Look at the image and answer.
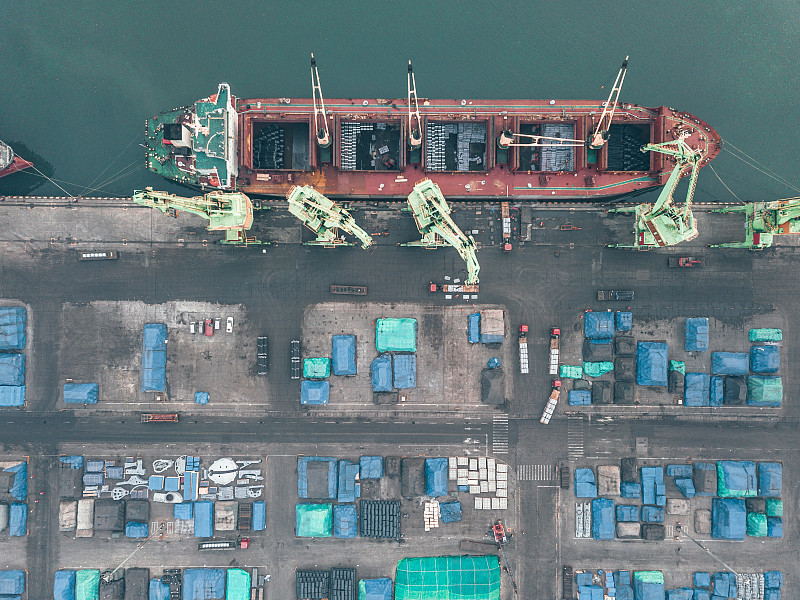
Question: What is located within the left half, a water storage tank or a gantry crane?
gantry crane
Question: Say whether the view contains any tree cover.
No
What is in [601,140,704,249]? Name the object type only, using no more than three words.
container crane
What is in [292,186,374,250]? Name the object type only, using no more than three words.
container crane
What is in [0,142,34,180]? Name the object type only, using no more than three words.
ship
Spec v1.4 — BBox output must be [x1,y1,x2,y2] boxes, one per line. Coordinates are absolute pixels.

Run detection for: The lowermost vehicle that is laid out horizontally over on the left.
[198,537,248,550]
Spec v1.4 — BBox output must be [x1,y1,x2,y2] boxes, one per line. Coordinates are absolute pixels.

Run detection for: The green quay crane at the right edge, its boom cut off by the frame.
[702,197,800,244]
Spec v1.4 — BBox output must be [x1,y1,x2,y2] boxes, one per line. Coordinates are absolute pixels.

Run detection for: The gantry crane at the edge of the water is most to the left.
[121,180,274,244]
